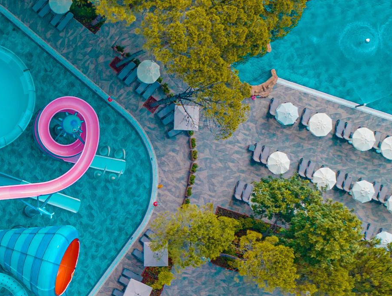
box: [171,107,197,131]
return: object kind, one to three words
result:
umbrella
